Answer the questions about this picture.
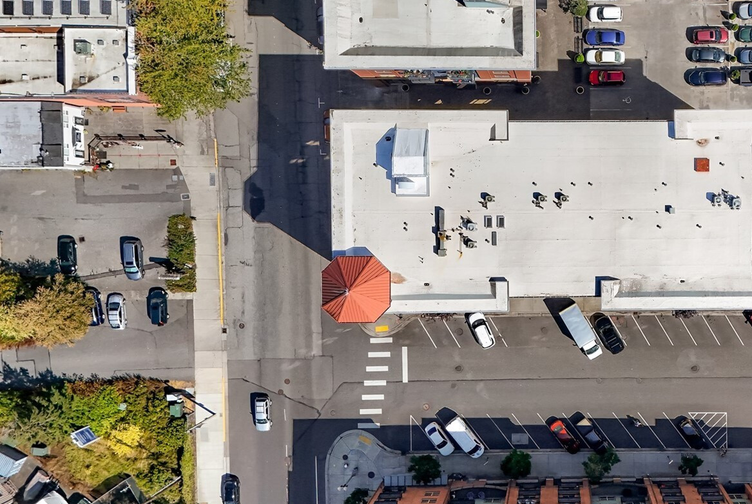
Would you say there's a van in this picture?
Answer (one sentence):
Yes, the photo shows a van.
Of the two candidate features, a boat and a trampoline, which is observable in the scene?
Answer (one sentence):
Looking from above, you can make out a boat.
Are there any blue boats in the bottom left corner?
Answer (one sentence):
No, no blue boat is visible in the bottom left corner.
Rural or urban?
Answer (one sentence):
It looks urban.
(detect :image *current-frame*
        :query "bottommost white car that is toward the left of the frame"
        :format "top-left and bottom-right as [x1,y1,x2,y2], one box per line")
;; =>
[252,393,273,431]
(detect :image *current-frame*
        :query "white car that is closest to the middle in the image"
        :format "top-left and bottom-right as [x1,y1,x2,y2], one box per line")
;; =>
[467,314,495,350]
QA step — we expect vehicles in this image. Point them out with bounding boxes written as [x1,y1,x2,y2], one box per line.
[122,238,144,279]
[737,24,752,43]
[585,48,624,65]
[547,416,579,452]
[148,288,170,325]
[690,45,725,64]
[467,314,495,350]
[593,312,623,354]
[571,411,608,454]
[588,5,623,23]
[738,69,752,86]
[252,393,273,431]
[687,69,726,87]
[632,416,643,430]
[557,302,603,365]
[674,412,707,449]
[324,107,341,145]
[736,46,752,64]
[692,26,729,44]
[737,1,752,20]
[444,411,485,460]
[107,293,128,329]
[423,419,454,456]
[585,28,624,46]
[86,287,107,325]
[58,237,80,275]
